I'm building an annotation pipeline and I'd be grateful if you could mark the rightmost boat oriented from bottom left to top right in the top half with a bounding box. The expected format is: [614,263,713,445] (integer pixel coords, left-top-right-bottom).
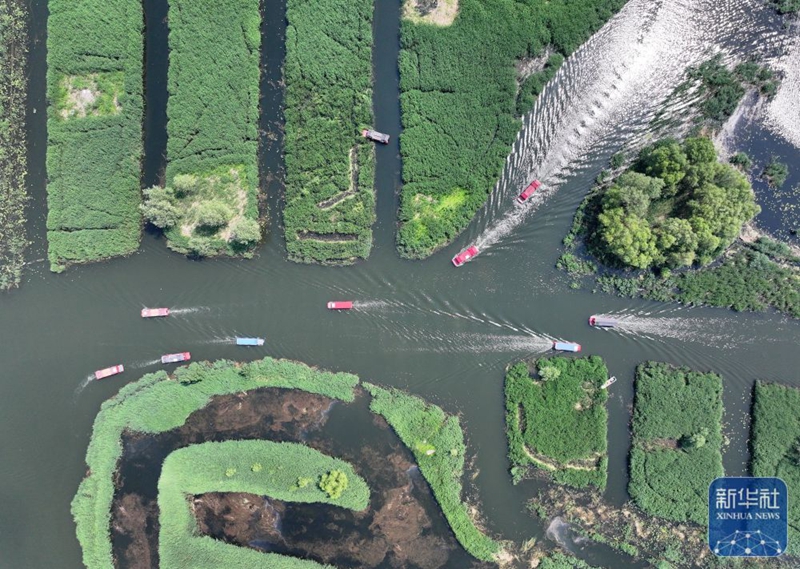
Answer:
[517,177,544,204]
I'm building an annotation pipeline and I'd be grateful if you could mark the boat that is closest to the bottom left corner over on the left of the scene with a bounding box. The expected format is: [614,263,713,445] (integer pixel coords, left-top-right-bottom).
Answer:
[95,363,125,379]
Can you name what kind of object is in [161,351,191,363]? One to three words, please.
boat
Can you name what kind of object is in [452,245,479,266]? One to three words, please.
boat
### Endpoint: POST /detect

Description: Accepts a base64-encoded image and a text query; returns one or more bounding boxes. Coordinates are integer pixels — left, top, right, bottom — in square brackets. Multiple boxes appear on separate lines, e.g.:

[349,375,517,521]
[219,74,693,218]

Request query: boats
[517,177,544,204]
[362,128,391,143]
[142,308,170,317]
[327,301,355,310]
[602,376,616,388]
[452,245,479,266]
[95,363,125,379]
[552,340,581,352]
[161,351,191,363]
[236,337,264,345]
[588,317,618,327]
